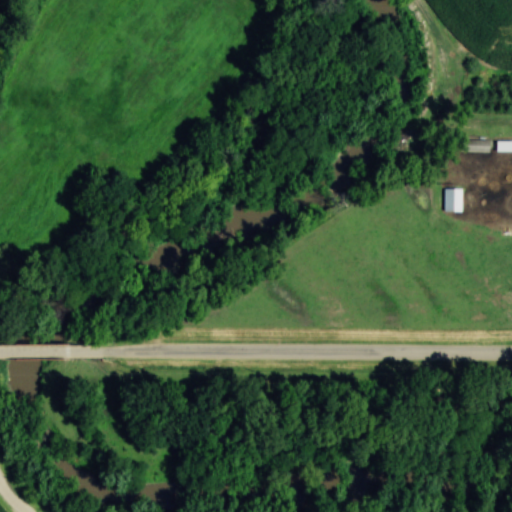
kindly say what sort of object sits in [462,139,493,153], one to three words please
barn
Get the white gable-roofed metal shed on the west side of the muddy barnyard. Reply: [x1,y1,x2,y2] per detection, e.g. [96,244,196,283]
[446,188,464,213]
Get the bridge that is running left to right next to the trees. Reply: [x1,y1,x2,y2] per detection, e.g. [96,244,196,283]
[8,344,103,360]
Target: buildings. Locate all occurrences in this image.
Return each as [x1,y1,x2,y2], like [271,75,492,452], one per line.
[446,188,464,213]
[462,139,493,153]
[498,140,512,153]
